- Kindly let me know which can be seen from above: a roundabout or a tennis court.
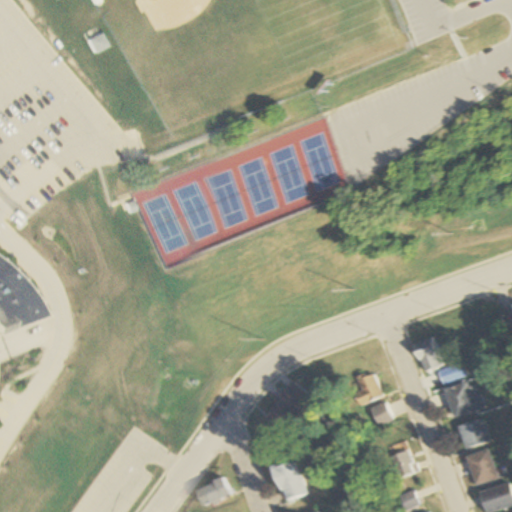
tennis court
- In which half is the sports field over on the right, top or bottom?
top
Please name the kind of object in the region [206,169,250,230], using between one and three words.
tennis court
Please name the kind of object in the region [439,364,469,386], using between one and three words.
house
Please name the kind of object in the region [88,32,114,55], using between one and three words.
shed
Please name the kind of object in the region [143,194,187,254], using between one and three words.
tennis court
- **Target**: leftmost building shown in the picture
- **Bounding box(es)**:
[0,252,54,333]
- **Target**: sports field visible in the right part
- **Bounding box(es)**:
[259,0,404,90]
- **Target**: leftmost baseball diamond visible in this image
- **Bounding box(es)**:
[136,0,210,32]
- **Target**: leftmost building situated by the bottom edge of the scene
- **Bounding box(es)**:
[198,476,238,506]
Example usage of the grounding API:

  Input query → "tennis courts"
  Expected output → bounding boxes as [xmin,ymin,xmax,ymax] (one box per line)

[174,182,218,242]
[268,144,312,204]
[300,132,344,192]
[238,157,281,217]
[143,194,187,254]
[206,169,250,230]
